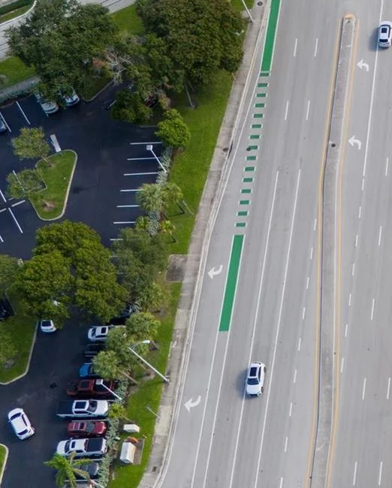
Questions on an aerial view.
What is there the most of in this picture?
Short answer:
paved ground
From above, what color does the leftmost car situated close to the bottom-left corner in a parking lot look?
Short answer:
white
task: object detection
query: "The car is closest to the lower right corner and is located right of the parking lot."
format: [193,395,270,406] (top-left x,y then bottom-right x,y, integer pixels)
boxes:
[246,364,265,396]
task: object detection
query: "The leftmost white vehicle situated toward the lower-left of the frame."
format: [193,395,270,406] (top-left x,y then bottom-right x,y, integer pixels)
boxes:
[11,408,33,439]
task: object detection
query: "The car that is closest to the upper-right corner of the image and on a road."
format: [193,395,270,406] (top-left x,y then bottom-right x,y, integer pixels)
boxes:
[379,22,392,47]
